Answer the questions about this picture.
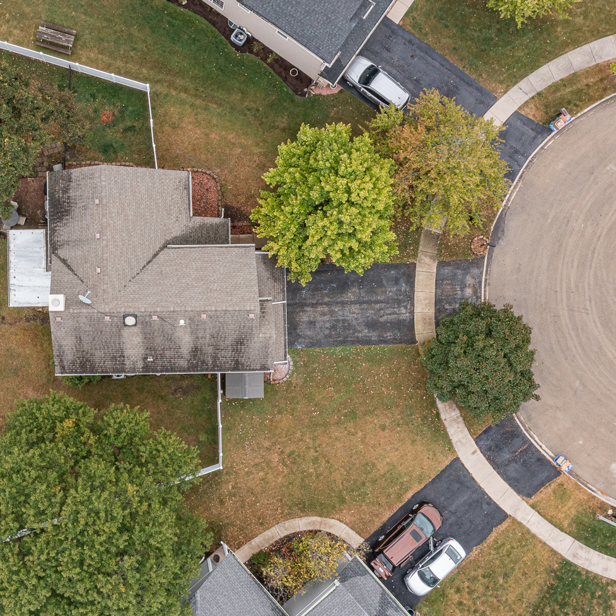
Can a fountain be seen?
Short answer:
No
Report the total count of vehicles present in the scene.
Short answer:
three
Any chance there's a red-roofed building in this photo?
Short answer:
No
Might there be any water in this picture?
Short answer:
No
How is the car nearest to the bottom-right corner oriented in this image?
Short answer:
diagonally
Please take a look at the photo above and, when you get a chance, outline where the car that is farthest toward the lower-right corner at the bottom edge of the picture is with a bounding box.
[404,538,468,597]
